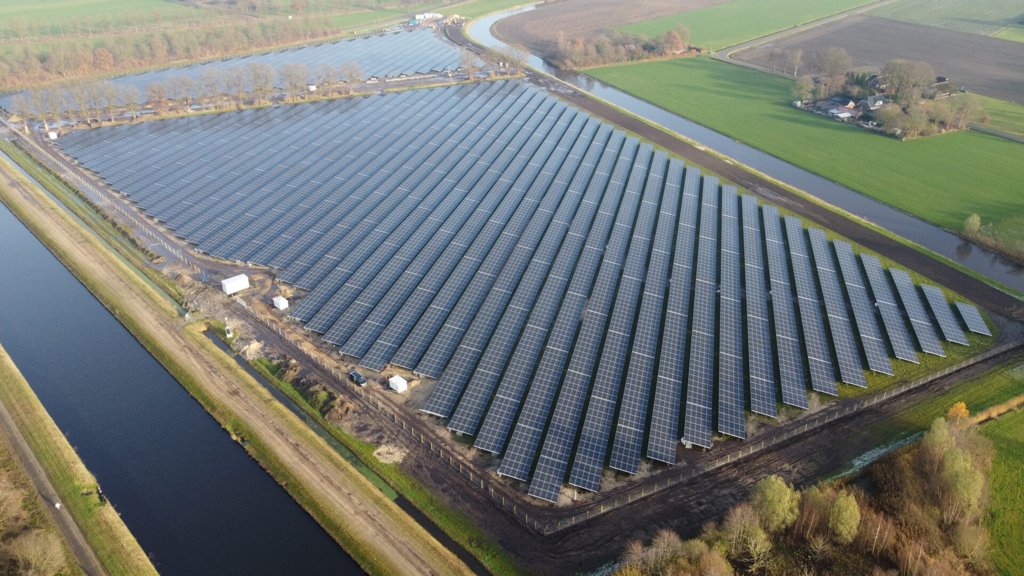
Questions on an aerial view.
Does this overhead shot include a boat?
No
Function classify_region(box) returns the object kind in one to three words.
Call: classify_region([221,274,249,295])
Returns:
building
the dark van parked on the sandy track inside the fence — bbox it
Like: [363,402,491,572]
[347,368,368,387]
